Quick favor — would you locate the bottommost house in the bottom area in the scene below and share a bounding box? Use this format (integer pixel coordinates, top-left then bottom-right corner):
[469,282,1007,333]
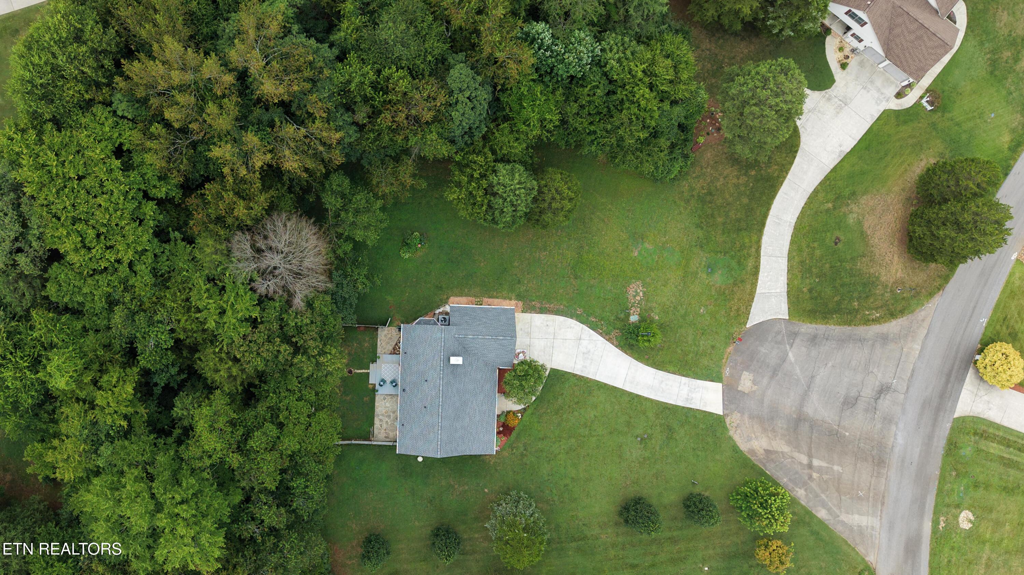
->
[396,304,517,458]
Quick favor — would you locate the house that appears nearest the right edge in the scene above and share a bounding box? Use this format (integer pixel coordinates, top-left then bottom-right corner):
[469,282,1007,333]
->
[820,0,960,85]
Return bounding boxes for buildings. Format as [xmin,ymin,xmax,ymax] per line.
[396,304,517,458]
[820,0,960,85]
